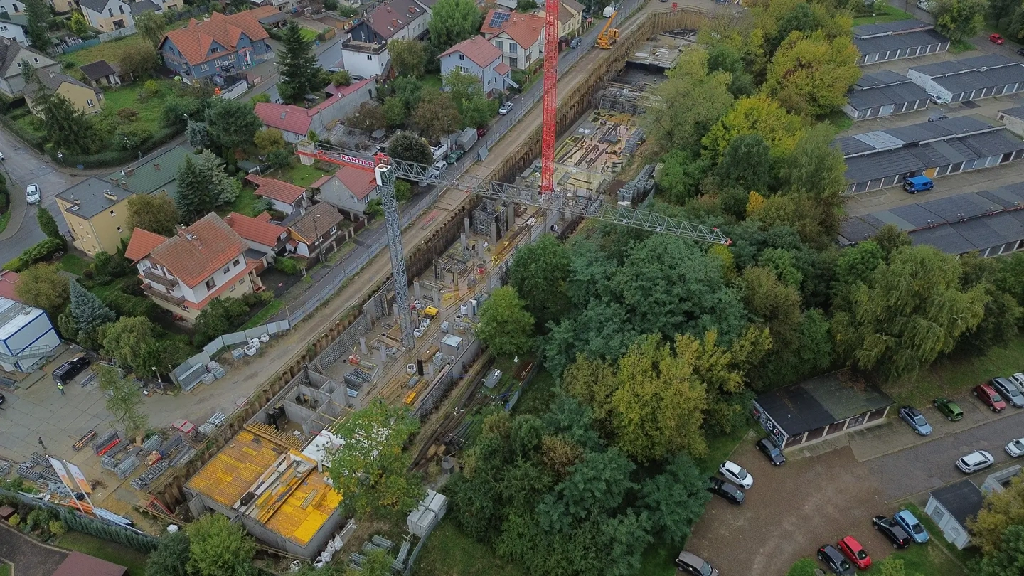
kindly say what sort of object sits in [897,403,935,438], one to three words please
car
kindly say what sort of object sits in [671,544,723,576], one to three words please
car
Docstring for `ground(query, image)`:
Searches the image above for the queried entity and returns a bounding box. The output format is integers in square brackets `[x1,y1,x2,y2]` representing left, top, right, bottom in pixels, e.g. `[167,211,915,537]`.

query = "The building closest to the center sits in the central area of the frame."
[436,333,460,362]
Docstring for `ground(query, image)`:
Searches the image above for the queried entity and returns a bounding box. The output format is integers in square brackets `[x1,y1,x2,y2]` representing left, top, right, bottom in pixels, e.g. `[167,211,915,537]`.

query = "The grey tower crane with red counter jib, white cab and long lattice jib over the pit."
[294,147,731,357]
